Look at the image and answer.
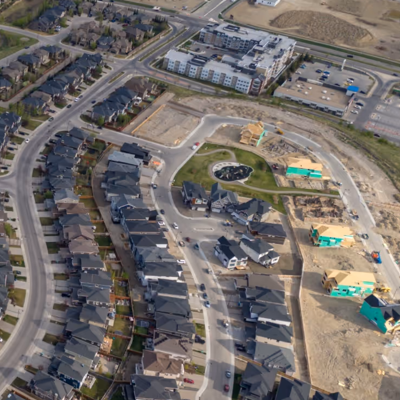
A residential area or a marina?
residential area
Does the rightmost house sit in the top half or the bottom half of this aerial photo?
bottom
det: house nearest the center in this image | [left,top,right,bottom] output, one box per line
[179,185,210,214]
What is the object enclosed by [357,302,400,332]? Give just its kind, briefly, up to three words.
house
